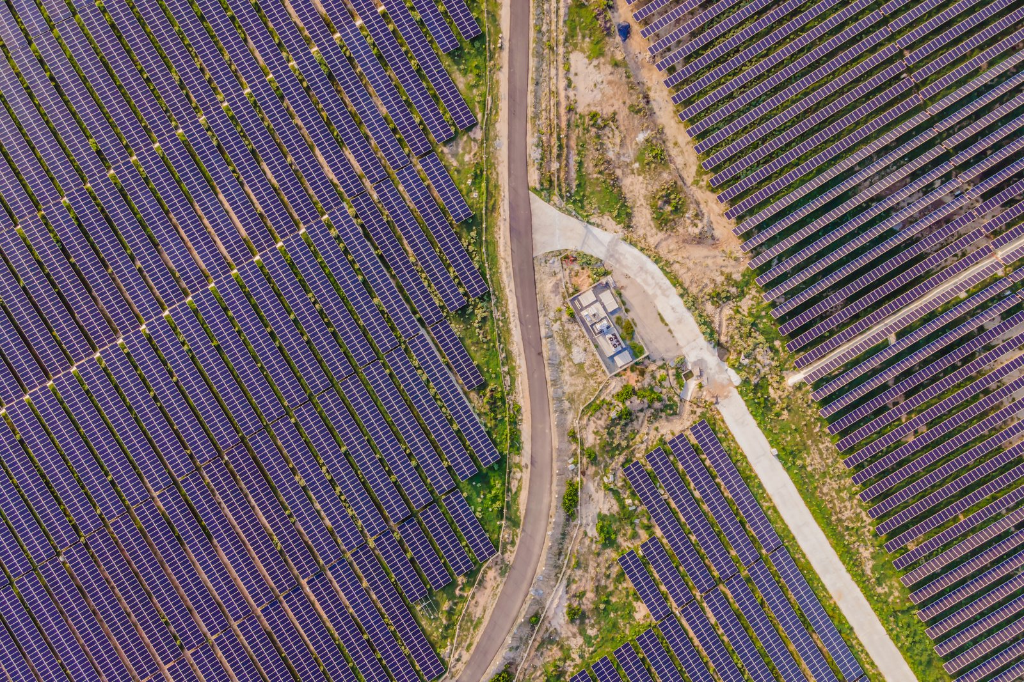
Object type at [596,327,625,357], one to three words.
building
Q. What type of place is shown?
solar farm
